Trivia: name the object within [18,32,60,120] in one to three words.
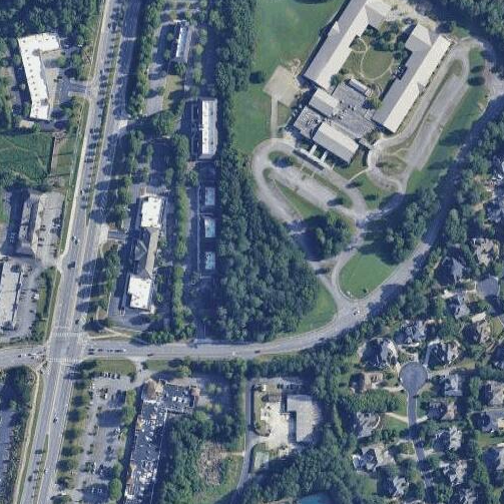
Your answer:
building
